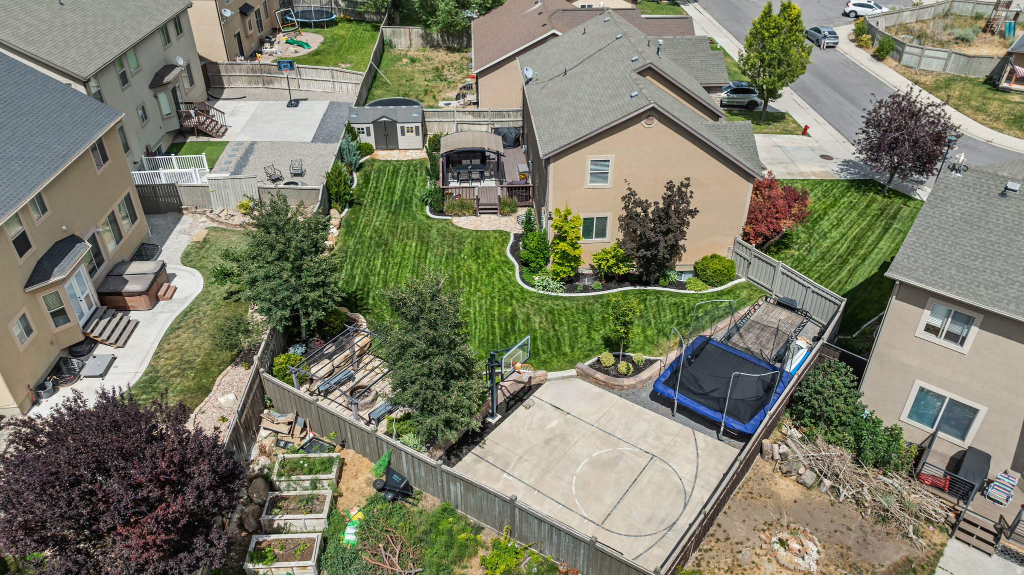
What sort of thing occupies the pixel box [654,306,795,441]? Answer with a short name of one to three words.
trampoline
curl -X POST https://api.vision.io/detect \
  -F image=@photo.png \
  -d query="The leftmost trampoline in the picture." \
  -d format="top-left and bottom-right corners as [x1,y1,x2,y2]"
[288,0,334,27]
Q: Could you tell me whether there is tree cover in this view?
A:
Yes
